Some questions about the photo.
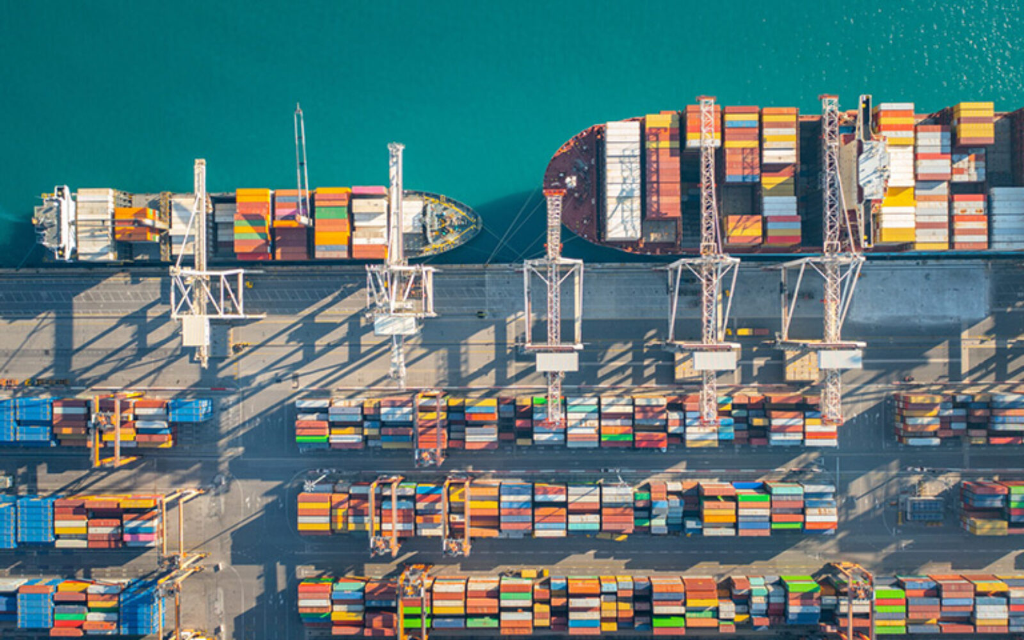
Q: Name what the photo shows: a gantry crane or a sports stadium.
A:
gantry crane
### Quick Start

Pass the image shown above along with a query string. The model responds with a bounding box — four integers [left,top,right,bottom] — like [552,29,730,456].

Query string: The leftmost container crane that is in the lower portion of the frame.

[91,390,146,466]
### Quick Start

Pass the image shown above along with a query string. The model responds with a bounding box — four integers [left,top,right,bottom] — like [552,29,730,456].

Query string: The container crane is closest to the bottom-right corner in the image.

[828,559,875,640]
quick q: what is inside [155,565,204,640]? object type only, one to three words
container crane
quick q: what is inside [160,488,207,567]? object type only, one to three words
container crane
